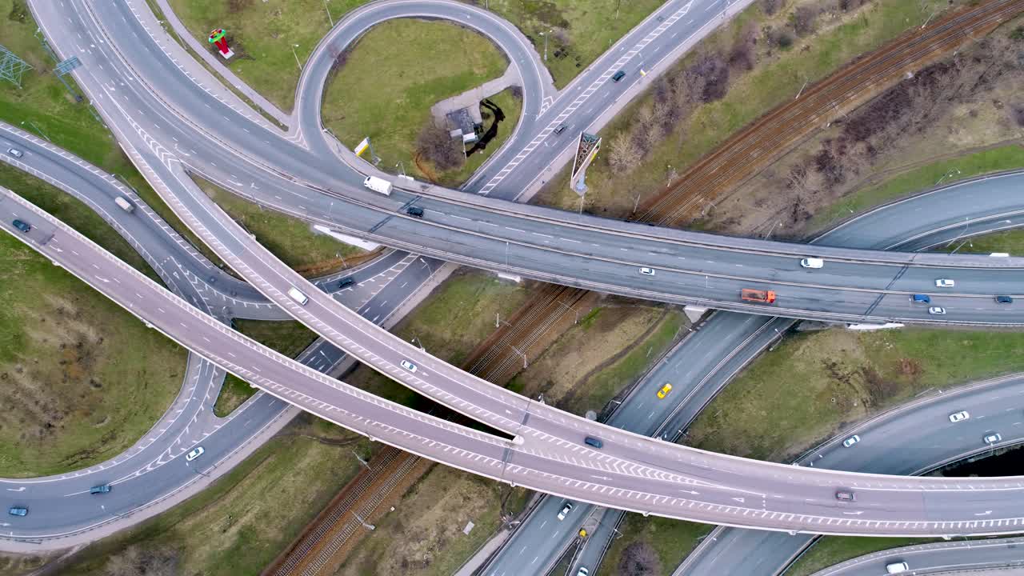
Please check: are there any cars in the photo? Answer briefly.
Yes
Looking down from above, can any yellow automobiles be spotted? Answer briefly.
Yes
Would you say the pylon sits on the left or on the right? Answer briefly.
left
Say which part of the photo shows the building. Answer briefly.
top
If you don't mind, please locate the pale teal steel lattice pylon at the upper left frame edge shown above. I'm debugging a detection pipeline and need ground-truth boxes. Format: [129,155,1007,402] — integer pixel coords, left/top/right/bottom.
[0,39,34,89]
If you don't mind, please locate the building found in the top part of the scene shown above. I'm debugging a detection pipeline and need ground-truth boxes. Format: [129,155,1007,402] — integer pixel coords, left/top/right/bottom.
[446,108,476,147]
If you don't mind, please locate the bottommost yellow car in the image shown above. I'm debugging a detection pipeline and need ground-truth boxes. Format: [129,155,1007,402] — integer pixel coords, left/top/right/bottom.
[655,382,672,400]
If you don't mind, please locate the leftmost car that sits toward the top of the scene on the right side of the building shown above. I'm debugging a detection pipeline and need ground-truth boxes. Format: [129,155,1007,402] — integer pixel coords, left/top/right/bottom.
[552,122,567,135]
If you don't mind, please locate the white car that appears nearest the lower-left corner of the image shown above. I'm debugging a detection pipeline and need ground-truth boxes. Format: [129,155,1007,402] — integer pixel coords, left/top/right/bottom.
[184,446,206,462]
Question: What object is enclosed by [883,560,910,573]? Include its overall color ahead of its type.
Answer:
white vehicle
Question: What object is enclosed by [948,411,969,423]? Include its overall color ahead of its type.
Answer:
white vehicle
